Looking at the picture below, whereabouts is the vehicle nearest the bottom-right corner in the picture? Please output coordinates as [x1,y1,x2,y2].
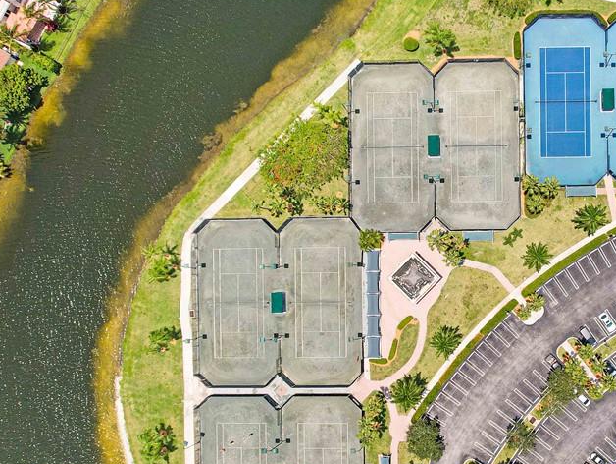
[589,450,609,464]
